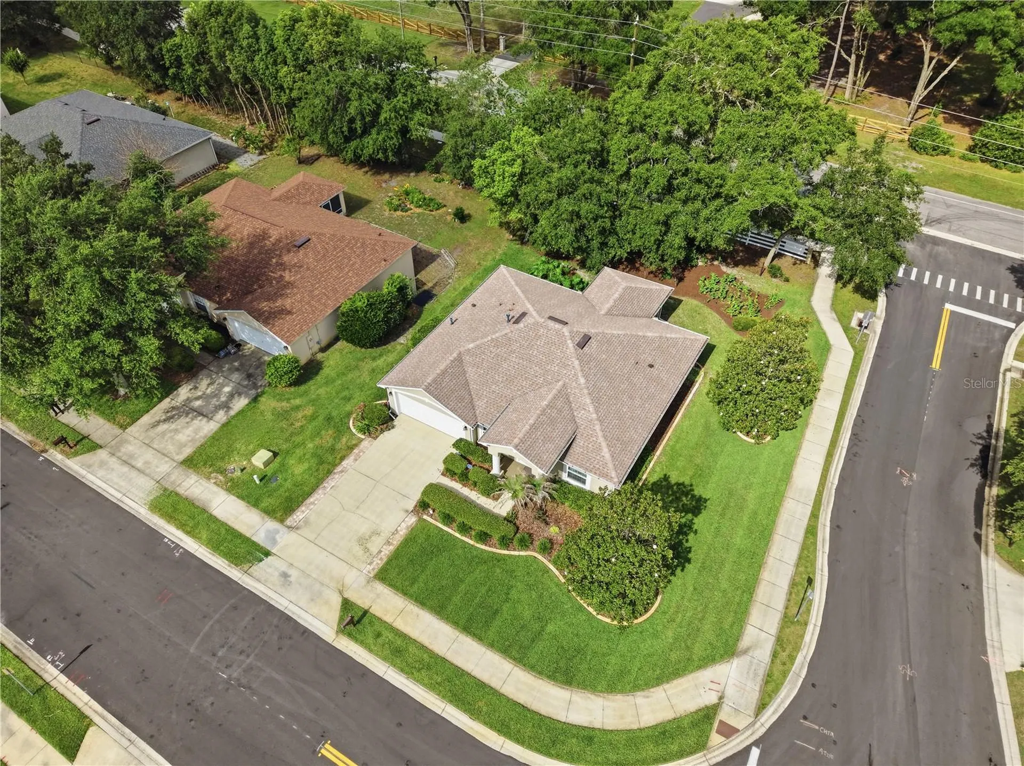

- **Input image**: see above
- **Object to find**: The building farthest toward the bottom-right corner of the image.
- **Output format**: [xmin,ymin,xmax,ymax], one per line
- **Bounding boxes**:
[376,265,710,503]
